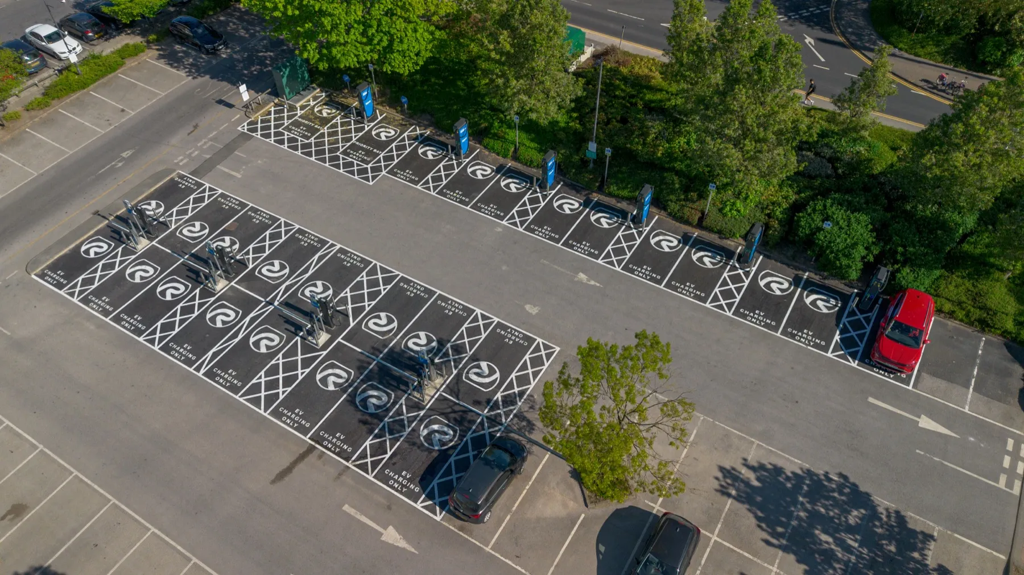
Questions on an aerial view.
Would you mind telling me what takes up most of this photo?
paved ground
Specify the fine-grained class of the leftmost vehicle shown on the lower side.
car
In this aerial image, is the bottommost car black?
Yes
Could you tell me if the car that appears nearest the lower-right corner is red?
Yes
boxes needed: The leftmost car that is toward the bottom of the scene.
[449,436,530,527]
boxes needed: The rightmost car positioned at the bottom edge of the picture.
[626,510,701,575]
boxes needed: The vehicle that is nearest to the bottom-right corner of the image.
[872,291,930,370]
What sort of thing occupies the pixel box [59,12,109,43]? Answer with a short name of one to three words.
car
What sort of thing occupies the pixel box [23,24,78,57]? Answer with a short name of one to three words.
car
